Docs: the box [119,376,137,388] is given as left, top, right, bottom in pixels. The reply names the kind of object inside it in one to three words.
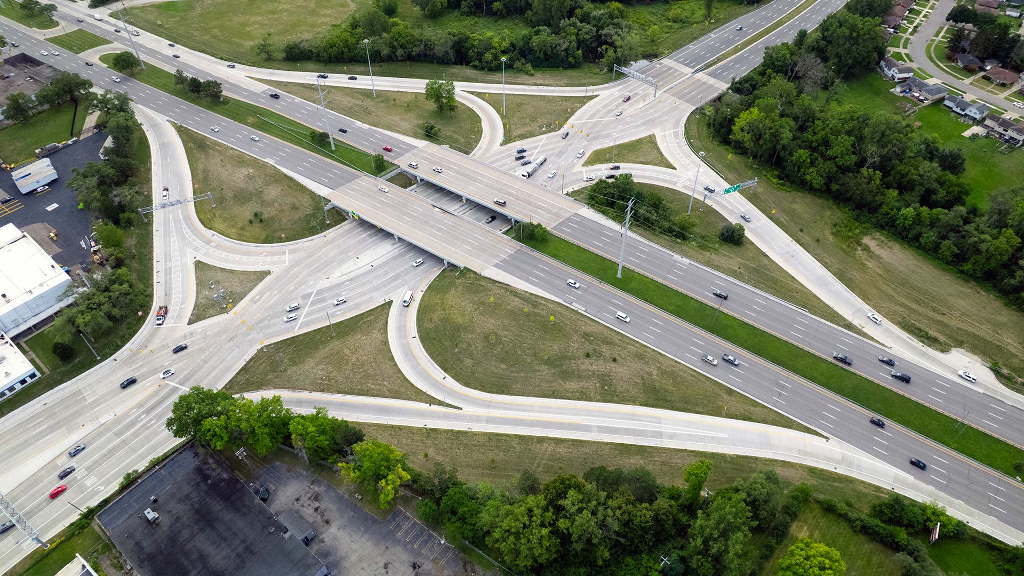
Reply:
vehicle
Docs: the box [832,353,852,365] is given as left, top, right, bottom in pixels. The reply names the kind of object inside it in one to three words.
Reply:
vehicle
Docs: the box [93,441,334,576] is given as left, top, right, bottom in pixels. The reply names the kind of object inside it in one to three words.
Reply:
warehouse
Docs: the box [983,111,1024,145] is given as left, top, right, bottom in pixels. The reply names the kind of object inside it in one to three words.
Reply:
house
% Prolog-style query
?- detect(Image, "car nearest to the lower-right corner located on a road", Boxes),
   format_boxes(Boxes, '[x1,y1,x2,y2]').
[908,457,927,470]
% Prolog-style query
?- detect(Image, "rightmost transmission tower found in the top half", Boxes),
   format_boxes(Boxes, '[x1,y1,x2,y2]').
[618,183,637,269]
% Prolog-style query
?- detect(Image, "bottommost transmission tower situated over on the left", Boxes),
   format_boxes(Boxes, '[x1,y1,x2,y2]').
[311,66,333,142]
